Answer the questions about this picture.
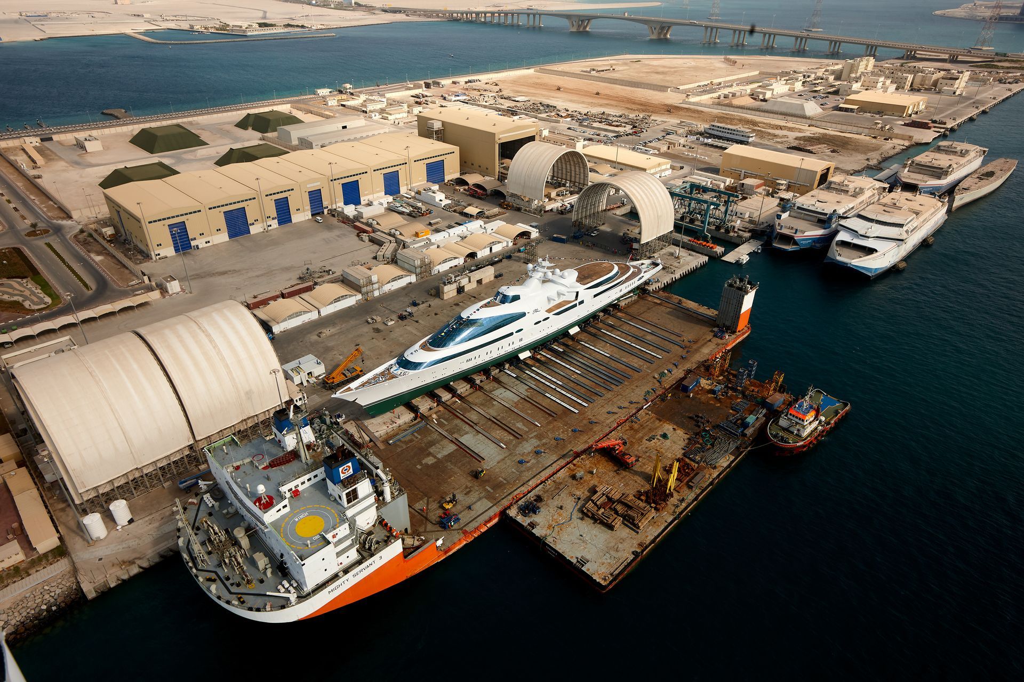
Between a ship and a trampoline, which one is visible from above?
ship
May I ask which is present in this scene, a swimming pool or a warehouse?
warehouse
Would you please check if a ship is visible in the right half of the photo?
Yes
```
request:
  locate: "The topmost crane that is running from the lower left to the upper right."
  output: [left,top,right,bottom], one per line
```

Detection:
[324,342,370,390]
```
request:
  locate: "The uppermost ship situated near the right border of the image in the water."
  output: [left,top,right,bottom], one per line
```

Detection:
[904,138,982,191]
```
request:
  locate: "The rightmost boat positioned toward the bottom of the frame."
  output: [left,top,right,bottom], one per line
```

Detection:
[761,381,857,454]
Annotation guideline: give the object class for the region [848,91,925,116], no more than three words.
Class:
building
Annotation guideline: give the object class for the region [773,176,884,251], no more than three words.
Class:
ship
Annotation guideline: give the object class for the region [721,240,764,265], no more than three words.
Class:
pier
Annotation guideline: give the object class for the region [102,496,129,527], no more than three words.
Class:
water tank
